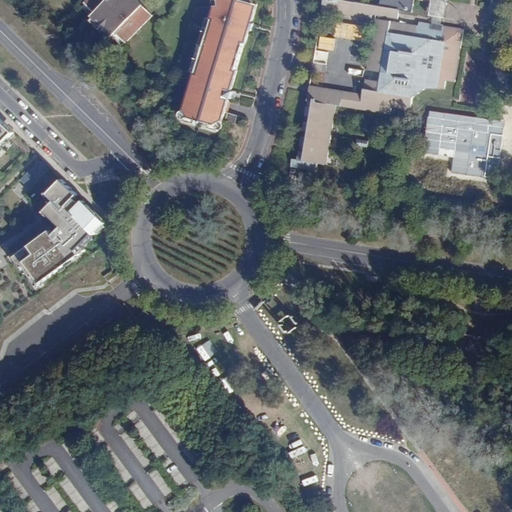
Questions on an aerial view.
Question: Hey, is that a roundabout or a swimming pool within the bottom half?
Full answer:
It is a roundabout that can be seen within the bottom half.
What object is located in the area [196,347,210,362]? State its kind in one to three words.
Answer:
vehicle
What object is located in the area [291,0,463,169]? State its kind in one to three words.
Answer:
building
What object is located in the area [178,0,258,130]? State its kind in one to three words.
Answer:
building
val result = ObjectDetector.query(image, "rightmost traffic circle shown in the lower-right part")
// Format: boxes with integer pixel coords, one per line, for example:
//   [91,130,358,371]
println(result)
[322,430,454,512]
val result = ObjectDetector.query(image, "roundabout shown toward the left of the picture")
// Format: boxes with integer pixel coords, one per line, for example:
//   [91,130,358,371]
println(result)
[132,171,262,302]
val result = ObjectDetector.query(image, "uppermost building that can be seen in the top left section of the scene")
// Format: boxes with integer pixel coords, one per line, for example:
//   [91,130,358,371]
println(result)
[87,0,154,45]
